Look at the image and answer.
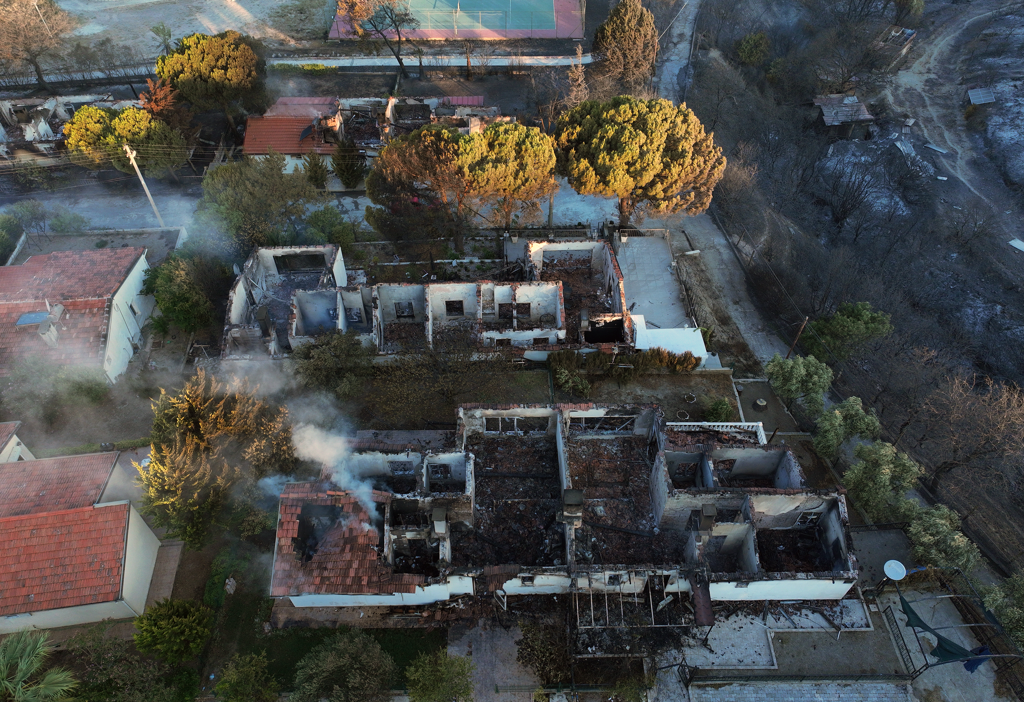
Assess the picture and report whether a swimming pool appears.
No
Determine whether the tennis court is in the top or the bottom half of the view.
top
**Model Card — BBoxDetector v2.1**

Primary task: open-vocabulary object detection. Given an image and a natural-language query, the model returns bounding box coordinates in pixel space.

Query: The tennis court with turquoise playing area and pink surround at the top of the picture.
[327,0,585,40]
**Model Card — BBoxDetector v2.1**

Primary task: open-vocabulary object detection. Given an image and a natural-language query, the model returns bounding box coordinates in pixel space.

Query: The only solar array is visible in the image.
[958,87,996,115]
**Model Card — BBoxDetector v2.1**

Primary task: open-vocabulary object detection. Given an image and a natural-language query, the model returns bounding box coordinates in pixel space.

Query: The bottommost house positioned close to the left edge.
[0,446,164,617]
